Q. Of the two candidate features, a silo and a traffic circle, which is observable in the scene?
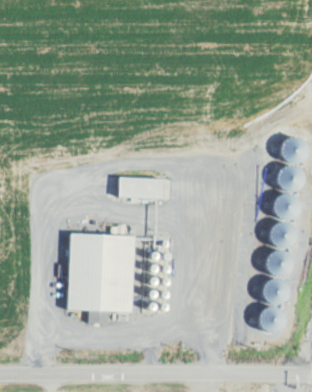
silo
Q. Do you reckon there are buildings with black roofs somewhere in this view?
No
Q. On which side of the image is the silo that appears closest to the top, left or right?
right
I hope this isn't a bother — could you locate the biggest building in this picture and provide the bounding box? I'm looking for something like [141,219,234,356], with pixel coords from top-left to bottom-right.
[66,233,136,324]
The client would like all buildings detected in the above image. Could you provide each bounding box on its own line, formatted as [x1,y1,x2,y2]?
[118,177,170,200]
[66,233,136,324]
